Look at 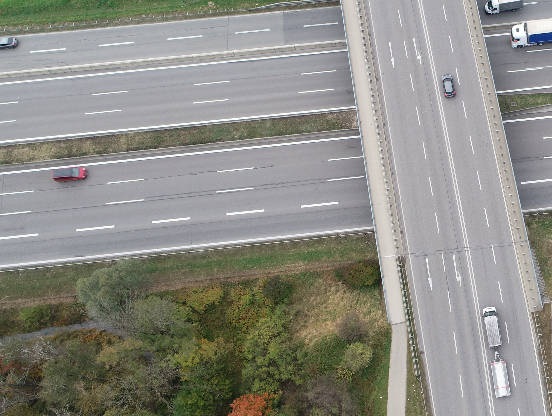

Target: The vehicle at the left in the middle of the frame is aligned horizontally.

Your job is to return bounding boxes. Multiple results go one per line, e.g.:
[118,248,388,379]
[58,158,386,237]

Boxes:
[51,165,85,181]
